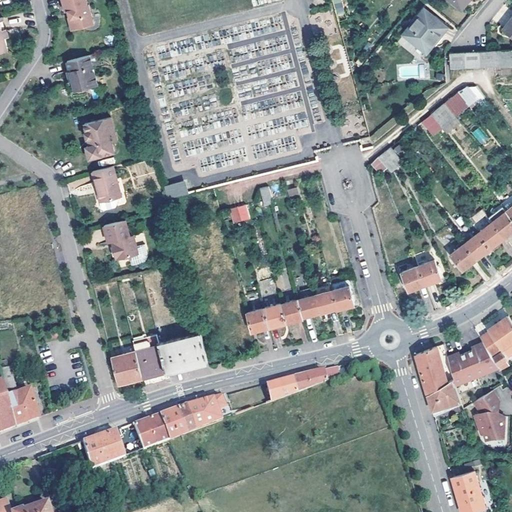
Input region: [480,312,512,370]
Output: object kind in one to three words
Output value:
house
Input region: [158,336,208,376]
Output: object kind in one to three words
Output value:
building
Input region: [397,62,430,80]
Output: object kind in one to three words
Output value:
swimming pool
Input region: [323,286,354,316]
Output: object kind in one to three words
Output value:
house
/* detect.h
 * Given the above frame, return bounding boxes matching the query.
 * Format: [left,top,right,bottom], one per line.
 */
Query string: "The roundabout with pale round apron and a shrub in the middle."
[368,317,412,362]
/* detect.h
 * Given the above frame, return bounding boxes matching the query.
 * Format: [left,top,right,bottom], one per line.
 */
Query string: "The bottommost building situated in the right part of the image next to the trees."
[450,472,488,512]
